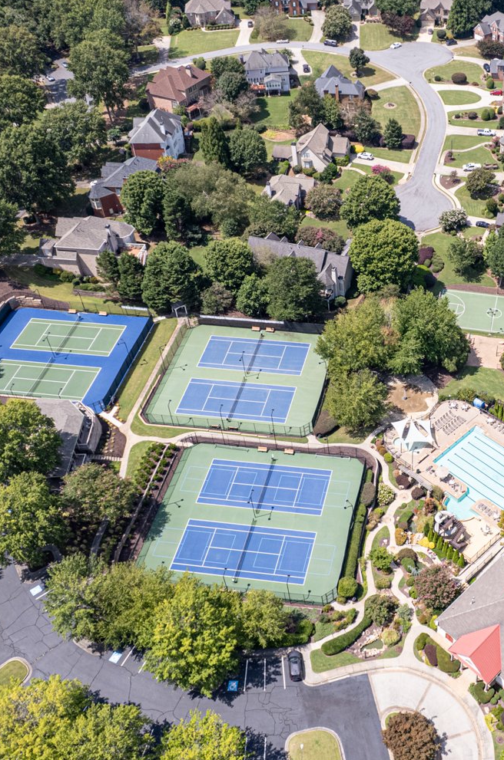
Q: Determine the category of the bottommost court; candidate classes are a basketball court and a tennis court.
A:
tennis court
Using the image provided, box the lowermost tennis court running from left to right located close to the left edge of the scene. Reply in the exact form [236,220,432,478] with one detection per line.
[0,352,127,412]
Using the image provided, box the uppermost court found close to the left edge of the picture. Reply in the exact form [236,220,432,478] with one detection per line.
[0,307,149,362]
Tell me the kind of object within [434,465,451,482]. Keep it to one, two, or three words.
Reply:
umbrella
